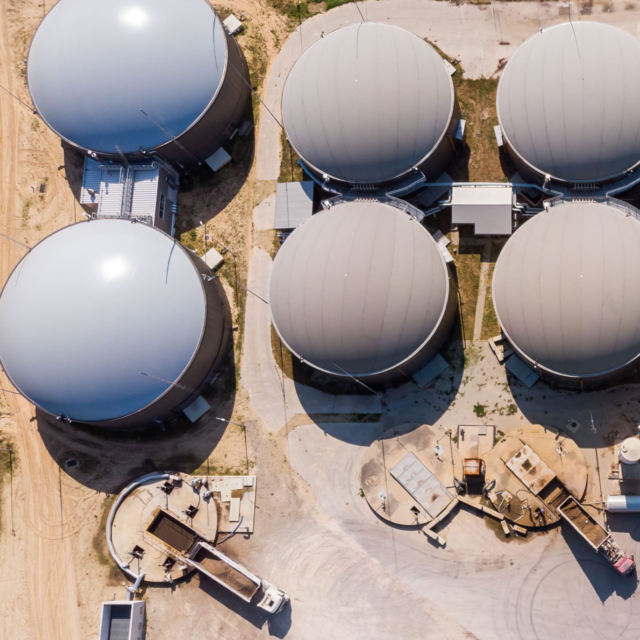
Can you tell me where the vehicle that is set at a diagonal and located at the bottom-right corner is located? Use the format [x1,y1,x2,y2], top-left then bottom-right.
[557,495,637,576]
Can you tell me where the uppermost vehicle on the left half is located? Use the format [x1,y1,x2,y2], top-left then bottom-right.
[186,542,299,617]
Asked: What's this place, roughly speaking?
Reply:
industrial area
